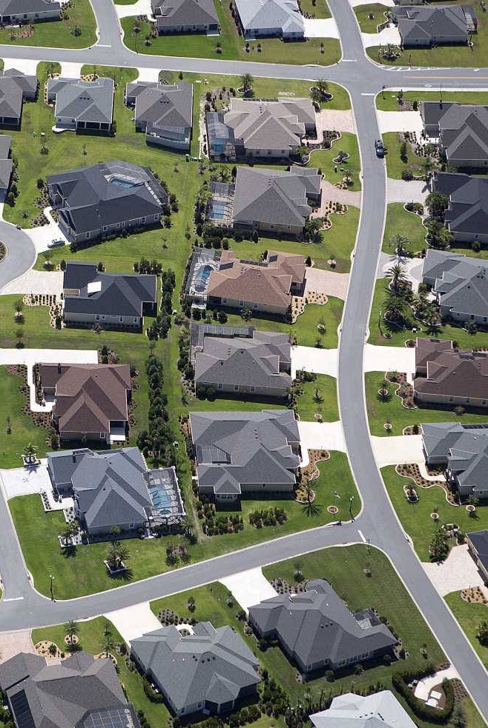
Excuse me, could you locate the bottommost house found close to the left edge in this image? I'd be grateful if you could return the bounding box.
[0,655,124,728]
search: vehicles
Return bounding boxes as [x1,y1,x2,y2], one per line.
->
[47,238,65,247]
[376,141,385,152]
